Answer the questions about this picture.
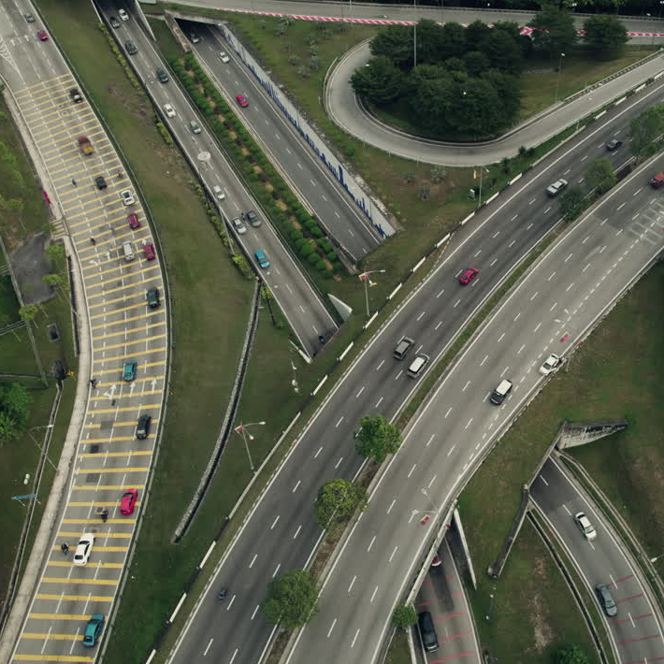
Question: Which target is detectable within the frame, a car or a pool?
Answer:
car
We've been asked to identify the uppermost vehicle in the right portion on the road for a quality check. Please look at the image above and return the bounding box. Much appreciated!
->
[603,136,625,153]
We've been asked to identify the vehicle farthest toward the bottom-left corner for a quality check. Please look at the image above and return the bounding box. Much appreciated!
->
[81,611,106,650]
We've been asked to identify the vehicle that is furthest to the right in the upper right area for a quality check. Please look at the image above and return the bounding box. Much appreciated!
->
[646,170,664,189]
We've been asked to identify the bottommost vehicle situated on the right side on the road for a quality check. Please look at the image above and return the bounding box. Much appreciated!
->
[419,614,438,651]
